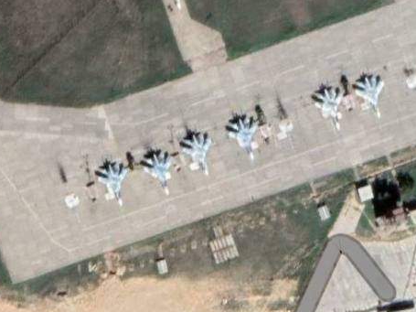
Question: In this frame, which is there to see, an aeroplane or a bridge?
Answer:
aeroplane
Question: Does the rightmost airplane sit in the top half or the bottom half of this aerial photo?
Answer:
top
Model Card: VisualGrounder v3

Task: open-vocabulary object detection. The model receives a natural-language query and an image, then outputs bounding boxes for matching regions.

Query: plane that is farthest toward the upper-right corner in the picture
[355,73,384,118]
